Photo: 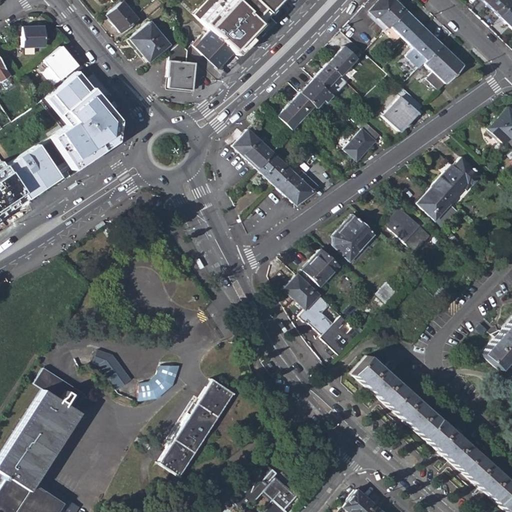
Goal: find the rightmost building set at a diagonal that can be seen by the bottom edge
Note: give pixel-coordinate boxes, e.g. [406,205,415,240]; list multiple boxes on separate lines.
[351,358,512,512]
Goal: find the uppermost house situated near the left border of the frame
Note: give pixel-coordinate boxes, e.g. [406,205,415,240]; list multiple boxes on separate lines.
[21,24,48,55]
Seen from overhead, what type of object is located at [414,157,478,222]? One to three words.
house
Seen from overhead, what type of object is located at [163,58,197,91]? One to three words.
building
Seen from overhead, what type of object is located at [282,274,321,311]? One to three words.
house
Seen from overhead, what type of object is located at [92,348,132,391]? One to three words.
building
